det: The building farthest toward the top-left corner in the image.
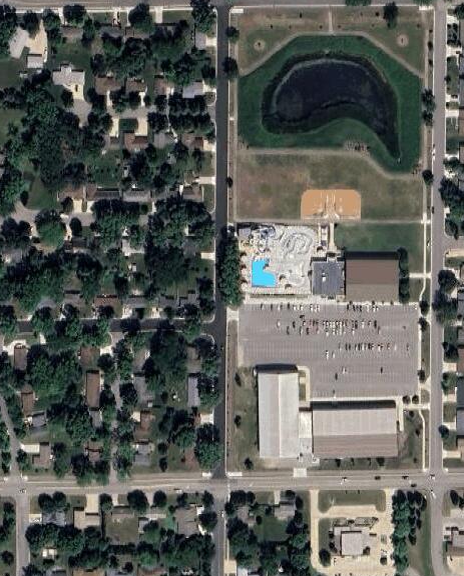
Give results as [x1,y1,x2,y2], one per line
[11,28,27,54]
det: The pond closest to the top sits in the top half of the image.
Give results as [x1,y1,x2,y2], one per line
[272,59,399,154]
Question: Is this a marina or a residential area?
residential area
